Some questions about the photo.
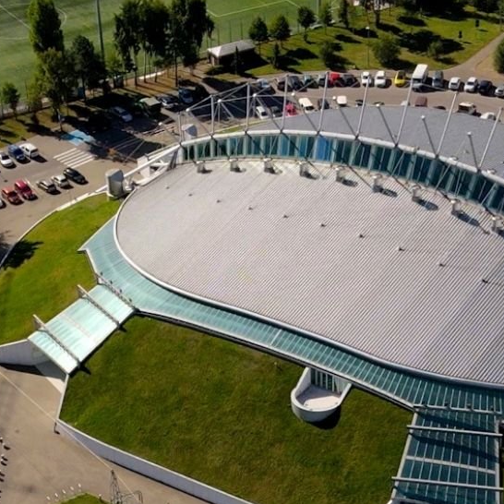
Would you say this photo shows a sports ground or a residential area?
sports ground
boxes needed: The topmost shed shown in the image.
[201,31,255,66]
